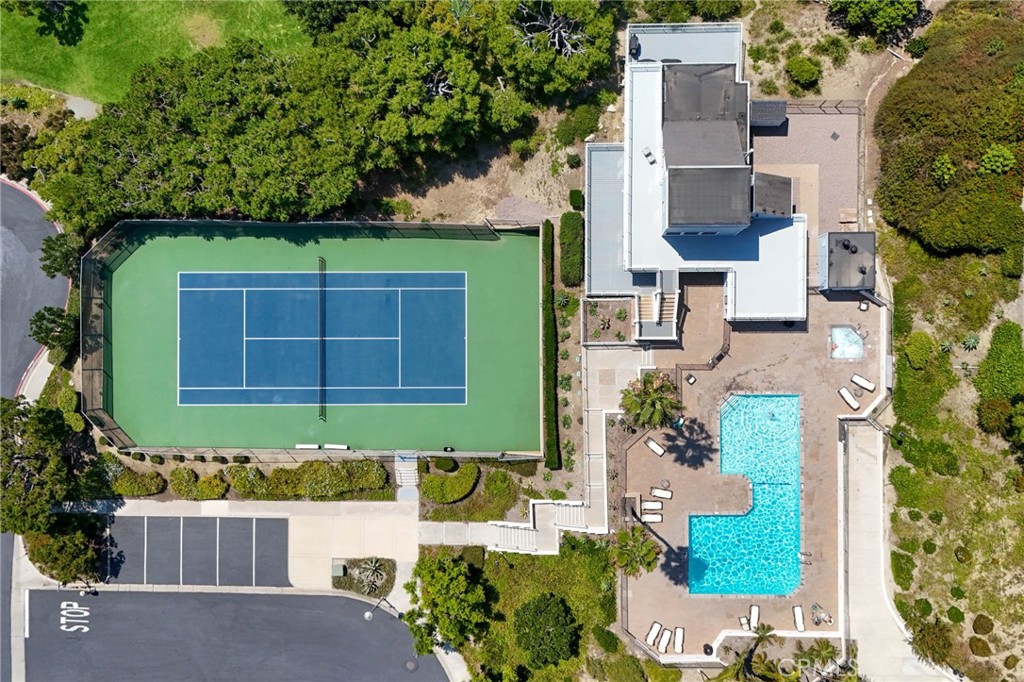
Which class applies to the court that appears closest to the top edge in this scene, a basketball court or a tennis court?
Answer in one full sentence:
What you see as the court that appears closest to the top edge is a tennis court.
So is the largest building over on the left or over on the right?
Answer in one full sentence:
The largest building is on the right side of the image.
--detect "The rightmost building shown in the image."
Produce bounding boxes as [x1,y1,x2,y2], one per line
[816,232,877,290]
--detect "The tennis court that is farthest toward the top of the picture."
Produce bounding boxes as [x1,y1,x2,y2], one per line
[103,220,543,459]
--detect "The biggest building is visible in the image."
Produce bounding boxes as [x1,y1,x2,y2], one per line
[584,20,812,340]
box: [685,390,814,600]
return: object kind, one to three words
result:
swimming pool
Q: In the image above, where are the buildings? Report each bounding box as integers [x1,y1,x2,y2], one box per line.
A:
[584,20,812,340]
[816,232,877,290]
